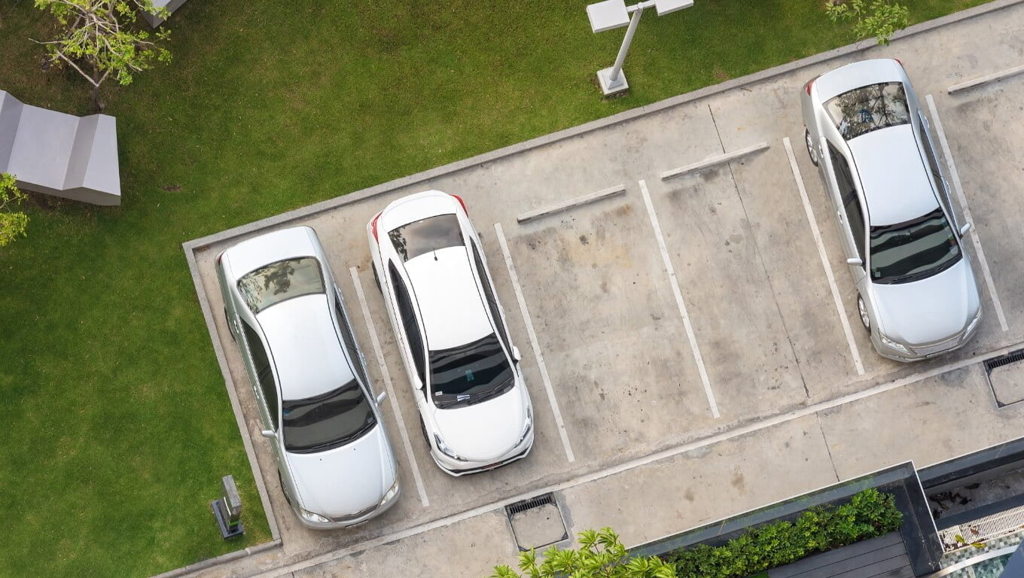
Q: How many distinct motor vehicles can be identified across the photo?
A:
3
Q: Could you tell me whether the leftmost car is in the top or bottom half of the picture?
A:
bottom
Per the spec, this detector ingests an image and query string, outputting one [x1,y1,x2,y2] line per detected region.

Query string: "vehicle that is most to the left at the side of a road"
[219,224,398,532]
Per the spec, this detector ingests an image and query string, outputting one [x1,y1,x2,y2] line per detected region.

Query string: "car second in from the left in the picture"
[370,191,534,477]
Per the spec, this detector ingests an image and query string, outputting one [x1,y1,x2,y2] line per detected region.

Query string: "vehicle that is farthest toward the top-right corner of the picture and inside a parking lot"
[802,55,982,365]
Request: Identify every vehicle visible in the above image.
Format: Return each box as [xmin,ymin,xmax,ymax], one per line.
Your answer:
[802,55,982,365]
[219,224,398,532]
[370,191,534,477]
